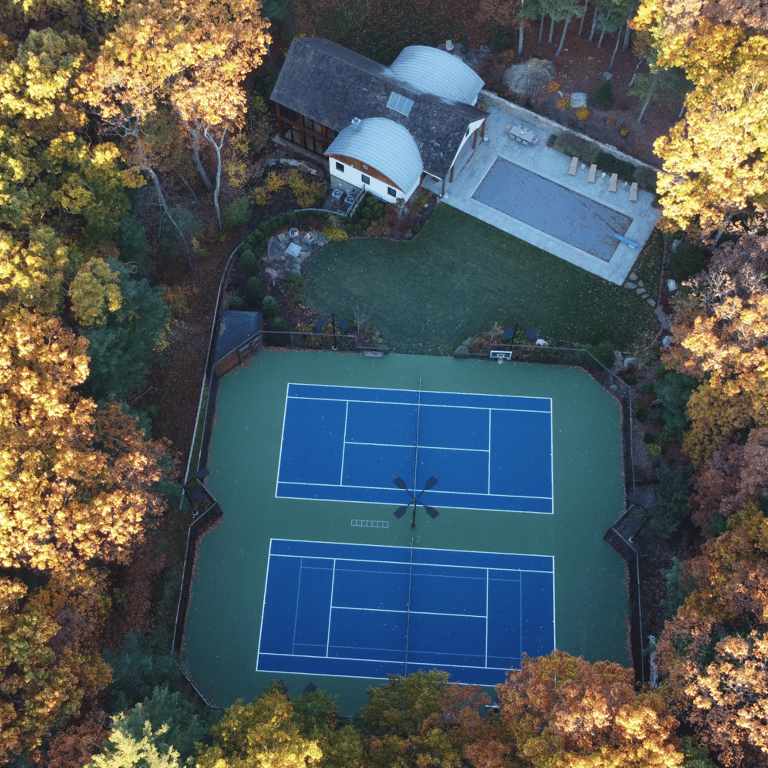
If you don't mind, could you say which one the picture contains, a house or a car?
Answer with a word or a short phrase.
house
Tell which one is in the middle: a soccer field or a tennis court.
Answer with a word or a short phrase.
tennis court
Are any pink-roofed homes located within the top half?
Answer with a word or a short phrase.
No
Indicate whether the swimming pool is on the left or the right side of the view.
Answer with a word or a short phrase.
right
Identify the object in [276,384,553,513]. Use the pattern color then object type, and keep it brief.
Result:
blue tennis court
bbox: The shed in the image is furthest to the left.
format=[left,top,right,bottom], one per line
[214,310,264,380]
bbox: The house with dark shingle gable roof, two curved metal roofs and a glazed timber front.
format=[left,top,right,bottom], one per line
[271,38,489,204]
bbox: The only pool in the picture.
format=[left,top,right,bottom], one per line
[465,152,640,267]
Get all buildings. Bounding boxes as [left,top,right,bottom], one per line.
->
[214,310,264,380]
[271,38,489,204]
